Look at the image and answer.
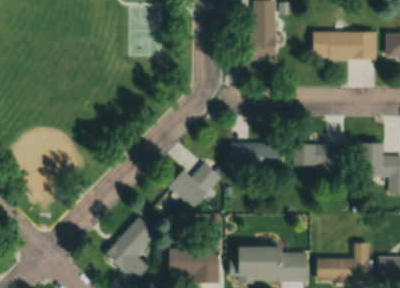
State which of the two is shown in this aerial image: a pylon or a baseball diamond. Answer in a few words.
baseball diamond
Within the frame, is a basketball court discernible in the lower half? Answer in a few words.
No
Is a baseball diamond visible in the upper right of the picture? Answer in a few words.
No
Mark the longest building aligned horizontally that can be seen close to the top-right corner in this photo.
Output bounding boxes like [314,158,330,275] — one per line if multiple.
[314,32,378,60]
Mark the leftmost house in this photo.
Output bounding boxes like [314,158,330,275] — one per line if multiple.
[103,219,152,281]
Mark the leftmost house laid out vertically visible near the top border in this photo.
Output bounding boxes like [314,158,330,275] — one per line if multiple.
[253,0,276,60]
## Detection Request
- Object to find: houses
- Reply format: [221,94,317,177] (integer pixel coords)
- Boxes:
[230,246,308,282]
[317,242,370,281]
[314,32,378,60]
[103,219,152,281]
[362,142,400,194]
[386,33,400,56]
[294,143,342,166]
[378,256,400,279]
[253,0,276,60]
[170,162,220,206]
[230,142,282,164]
[169,248,220,282]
